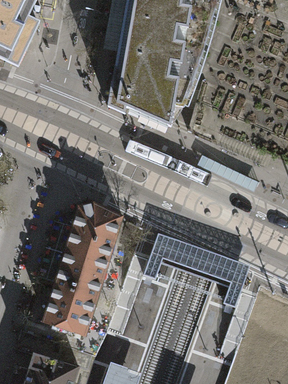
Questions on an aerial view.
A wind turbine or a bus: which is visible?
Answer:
bus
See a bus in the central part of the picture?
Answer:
Yes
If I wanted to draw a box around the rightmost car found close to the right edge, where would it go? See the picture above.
[268,212,288,228]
